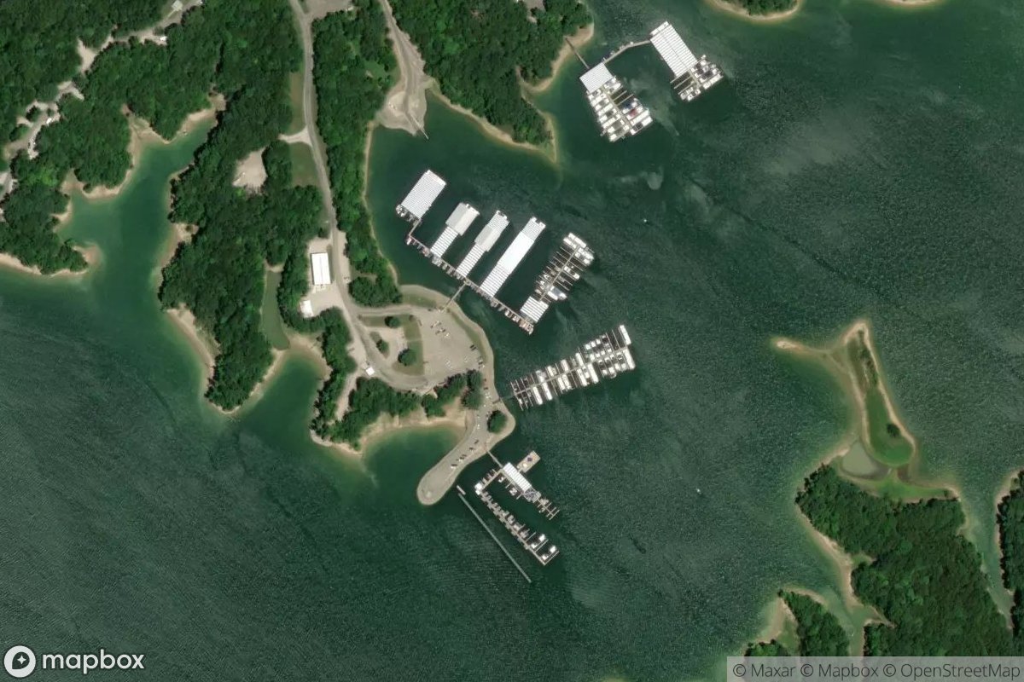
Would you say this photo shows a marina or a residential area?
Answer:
marina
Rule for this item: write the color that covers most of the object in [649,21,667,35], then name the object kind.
white boat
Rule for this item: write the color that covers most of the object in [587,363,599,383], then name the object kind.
white boat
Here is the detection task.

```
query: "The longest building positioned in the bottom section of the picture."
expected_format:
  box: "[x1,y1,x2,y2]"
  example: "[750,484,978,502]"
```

[503,461,541,503]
